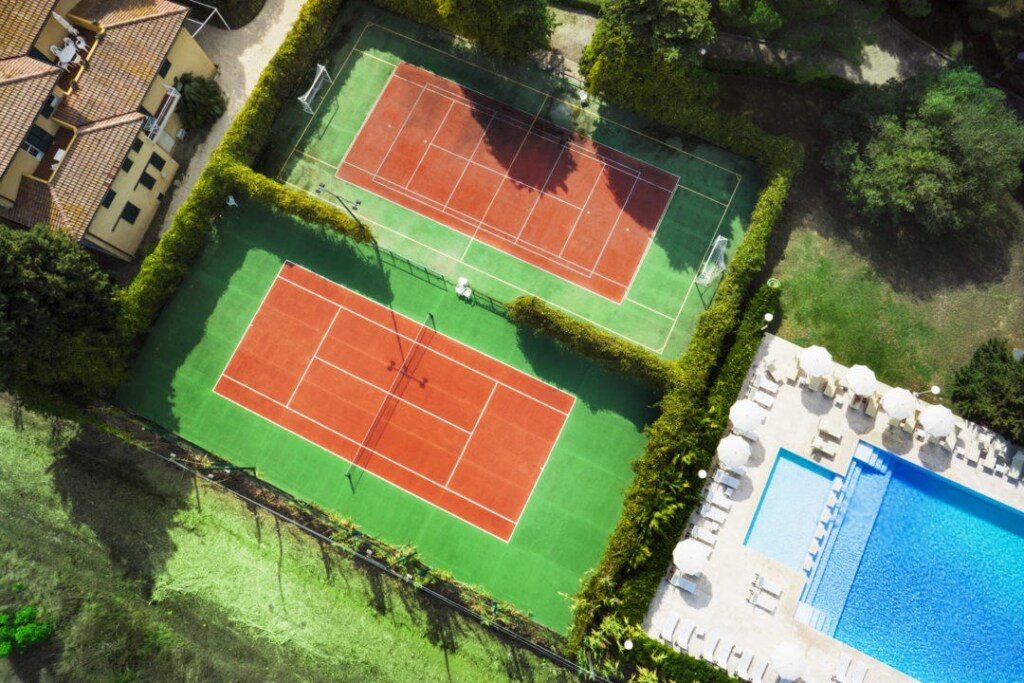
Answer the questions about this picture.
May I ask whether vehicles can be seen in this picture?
No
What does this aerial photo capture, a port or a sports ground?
sports ground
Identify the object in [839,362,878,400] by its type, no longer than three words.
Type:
umbrella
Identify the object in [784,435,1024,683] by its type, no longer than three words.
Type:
swimming pool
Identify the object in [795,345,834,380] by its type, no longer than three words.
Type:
umbrella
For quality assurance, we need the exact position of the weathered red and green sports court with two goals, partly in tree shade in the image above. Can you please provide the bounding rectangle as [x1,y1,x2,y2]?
[258,10,757,370]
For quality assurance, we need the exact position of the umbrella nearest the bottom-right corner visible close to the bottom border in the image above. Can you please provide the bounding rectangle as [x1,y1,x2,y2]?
[768,636,809,678]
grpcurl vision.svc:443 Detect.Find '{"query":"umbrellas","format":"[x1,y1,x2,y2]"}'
[725,398,763,435]
[768,636,809,678]
[713,432,752,469]
[839,362,878,400]
[916,401,957,439]
[795,345,834,380]
[877,385,917,423]
[670,536,709,576]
